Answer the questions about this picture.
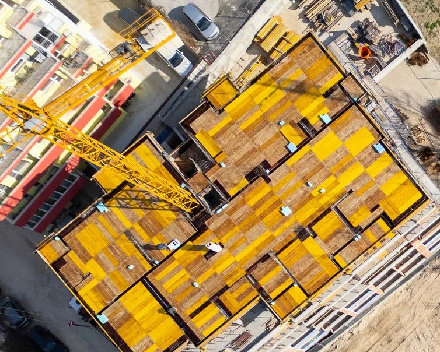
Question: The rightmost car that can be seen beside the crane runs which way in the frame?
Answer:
diagonally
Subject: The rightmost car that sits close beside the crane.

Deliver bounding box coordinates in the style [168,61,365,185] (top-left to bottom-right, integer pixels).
[182,1,219,40]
